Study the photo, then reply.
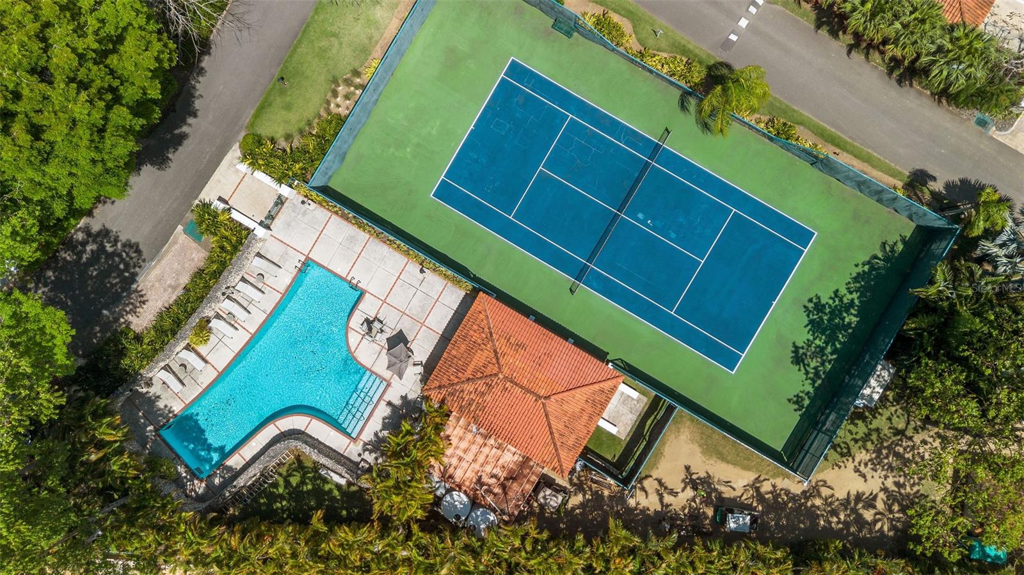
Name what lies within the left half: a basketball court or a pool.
pool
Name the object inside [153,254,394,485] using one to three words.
swimming pool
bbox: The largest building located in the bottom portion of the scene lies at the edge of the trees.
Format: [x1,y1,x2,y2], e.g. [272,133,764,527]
[421,291,624,524]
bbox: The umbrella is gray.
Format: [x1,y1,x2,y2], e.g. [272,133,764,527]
[387,343,421,380]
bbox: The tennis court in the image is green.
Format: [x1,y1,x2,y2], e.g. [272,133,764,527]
[324,0,929,467]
